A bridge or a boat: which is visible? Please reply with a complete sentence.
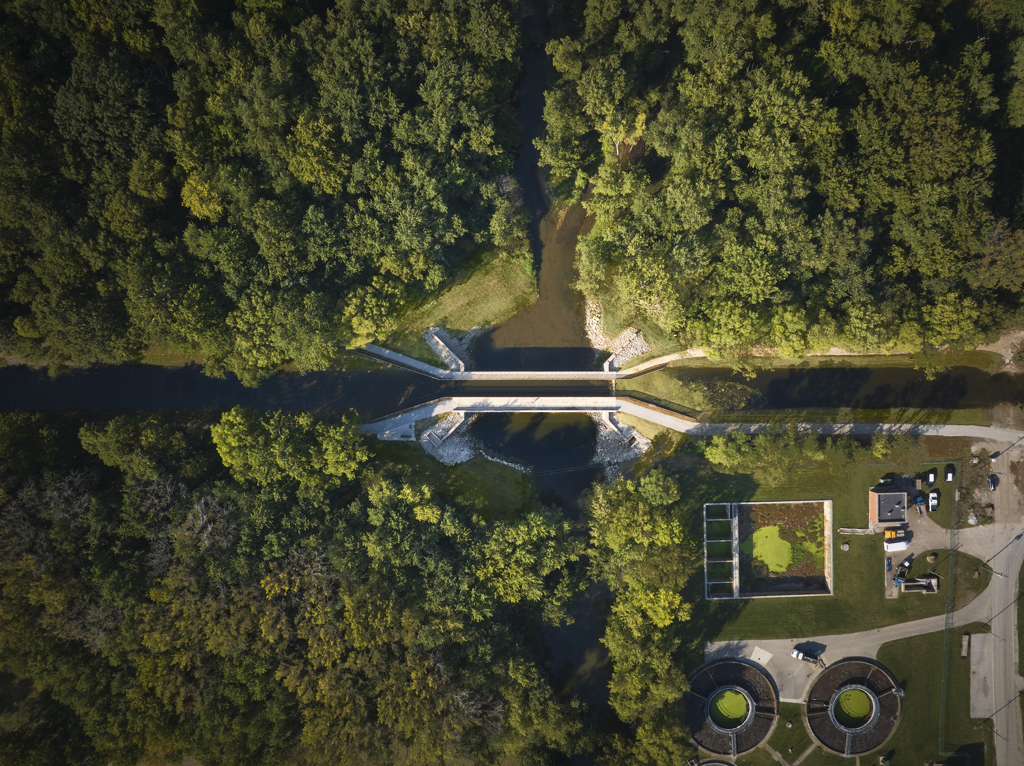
Visible in the photo is a bridge.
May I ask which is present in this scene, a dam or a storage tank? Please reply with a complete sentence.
It is a storage tank that can be seen here.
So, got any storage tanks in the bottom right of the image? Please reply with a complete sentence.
Yes, a storage tank can be seen in the bottom right of the image.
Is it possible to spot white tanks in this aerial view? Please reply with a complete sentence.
No, no white tank is visible in the scene.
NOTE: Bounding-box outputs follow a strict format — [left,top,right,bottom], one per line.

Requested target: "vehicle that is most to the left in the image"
[791,648,827,663]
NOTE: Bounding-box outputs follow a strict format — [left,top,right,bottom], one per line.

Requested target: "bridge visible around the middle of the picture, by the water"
[432,330,641,444]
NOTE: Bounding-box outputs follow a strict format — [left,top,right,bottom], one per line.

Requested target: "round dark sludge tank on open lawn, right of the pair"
[806,661,907,765]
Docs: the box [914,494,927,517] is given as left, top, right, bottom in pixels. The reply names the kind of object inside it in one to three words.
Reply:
vehicle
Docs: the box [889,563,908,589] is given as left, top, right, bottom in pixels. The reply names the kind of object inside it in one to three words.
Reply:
vehicle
